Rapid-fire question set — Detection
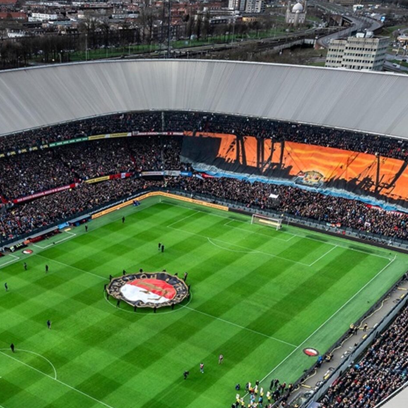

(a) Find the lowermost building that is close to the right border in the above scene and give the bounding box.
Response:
[325,27,391,72]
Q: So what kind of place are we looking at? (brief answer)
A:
sports ground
